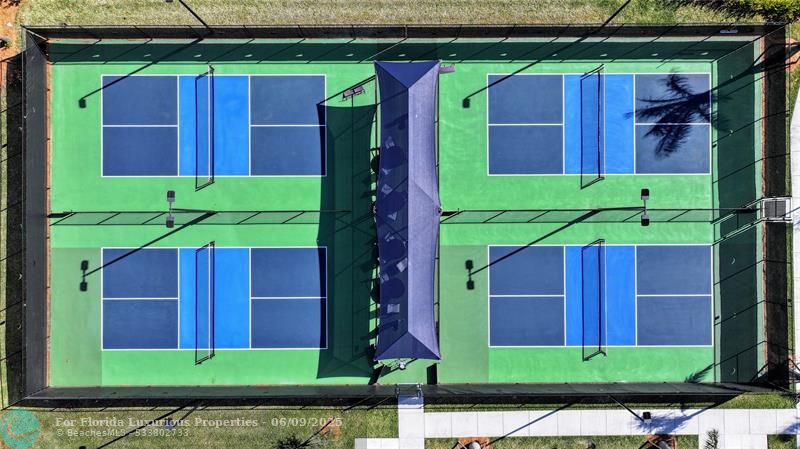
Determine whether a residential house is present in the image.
No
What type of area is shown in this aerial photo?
sports ground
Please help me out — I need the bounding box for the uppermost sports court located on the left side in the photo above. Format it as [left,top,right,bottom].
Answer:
[102,74,326,177]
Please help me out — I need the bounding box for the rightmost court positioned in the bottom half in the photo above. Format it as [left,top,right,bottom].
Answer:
[488,244,713,347]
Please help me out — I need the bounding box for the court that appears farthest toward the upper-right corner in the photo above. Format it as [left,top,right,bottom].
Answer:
[488,73,712,176]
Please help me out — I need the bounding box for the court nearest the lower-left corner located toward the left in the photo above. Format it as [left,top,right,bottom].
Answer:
[102,247,327,350]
